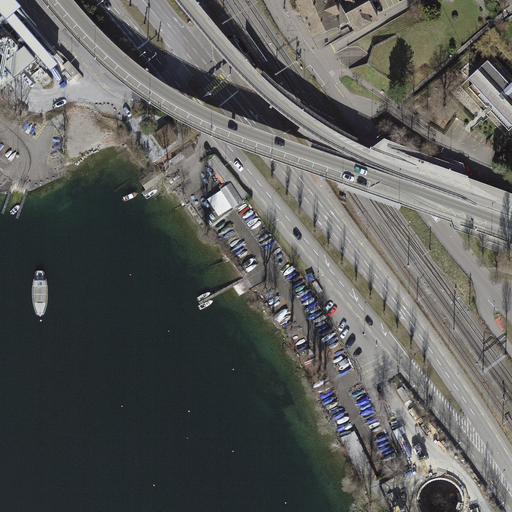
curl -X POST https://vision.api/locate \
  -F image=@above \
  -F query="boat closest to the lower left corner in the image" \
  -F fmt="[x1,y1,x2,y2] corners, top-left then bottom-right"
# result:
[32,270,48,316]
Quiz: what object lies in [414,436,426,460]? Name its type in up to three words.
vehicle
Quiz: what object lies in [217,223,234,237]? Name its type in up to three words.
boat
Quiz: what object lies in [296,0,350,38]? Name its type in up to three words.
house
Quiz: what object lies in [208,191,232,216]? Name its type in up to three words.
building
